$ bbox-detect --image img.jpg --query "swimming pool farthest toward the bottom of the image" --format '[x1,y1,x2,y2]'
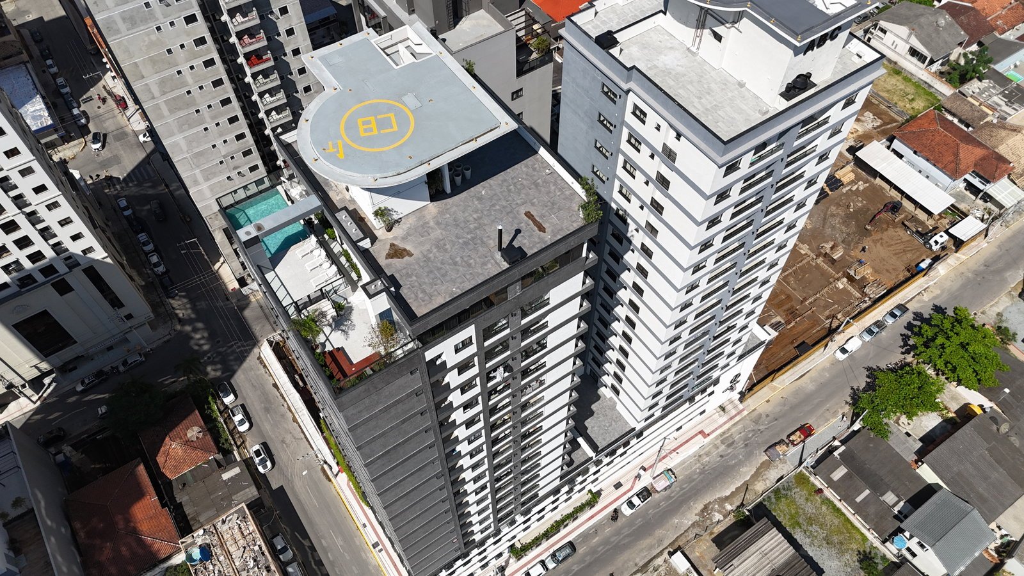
[229,192,311,263]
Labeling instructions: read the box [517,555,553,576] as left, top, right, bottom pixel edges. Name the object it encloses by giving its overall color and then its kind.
white car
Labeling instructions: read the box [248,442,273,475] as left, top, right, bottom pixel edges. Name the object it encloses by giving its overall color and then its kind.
white car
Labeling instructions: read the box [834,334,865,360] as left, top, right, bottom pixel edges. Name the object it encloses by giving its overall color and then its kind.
white vehicle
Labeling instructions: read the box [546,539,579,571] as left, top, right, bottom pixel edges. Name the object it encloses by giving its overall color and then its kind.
gray car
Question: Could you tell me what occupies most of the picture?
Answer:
buildings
